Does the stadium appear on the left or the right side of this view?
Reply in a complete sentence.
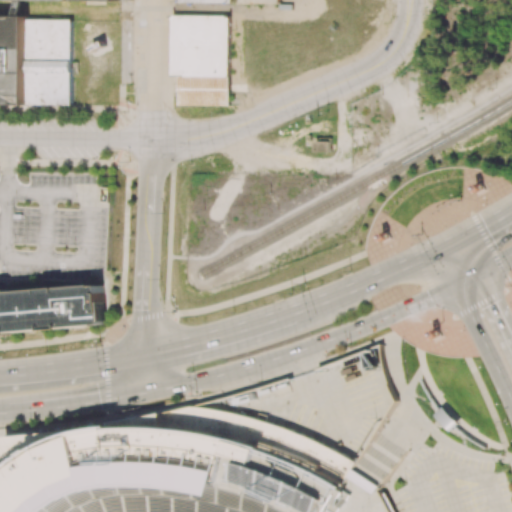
The stadium is on the left side of the image.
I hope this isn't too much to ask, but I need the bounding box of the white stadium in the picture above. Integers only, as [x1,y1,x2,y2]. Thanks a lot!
[0,424,348,512]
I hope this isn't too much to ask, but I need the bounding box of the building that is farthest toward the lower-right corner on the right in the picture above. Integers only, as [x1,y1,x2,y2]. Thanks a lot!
[434,408,458,433]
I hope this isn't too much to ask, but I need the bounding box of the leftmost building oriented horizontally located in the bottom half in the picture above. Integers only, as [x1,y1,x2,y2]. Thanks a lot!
[0,285,108,332]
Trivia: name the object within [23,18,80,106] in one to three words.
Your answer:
building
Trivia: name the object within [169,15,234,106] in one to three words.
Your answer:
building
